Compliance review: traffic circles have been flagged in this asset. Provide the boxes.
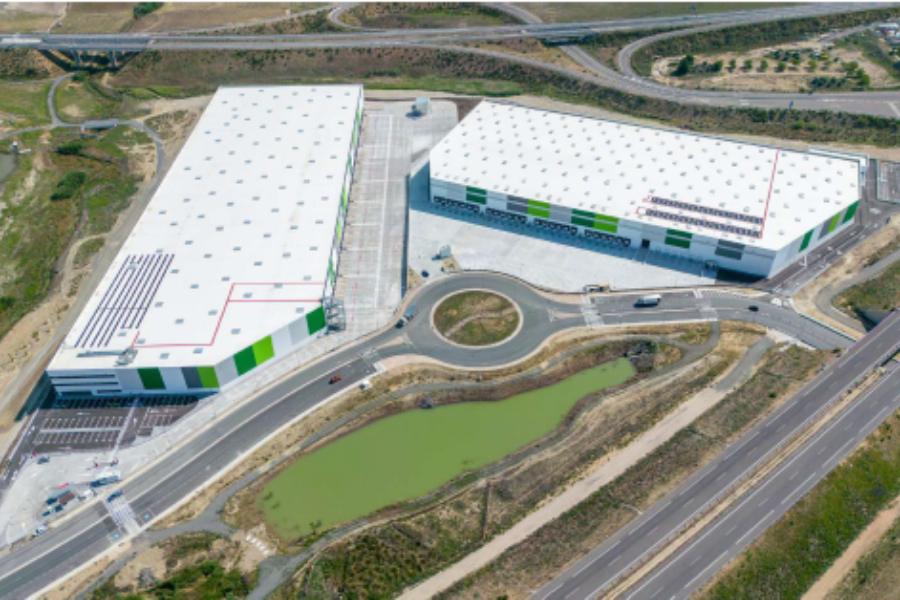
[371,275,560,369]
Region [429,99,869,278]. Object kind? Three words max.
warehouse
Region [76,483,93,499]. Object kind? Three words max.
vehicle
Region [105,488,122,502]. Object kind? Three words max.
vehicle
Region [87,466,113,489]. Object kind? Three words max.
truck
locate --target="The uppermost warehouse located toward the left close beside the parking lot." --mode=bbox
[47,83,367,396]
